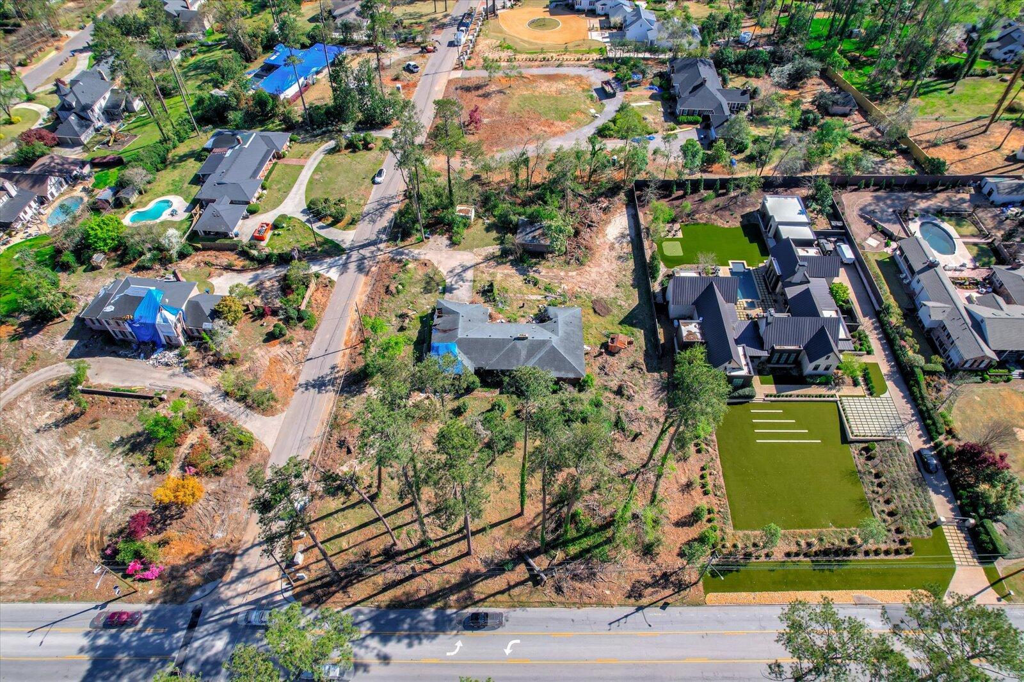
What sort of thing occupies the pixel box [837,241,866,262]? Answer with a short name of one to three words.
truck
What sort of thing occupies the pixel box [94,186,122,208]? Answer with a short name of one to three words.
shed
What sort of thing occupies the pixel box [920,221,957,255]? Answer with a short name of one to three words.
swimming pool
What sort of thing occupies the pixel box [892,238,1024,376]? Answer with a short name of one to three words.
house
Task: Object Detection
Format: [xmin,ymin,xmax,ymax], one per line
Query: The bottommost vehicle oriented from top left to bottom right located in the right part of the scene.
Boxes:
[914,445,945,474]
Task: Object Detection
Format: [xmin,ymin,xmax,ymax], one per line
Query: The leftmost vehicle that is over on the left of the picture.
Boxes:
[99,610,140,628]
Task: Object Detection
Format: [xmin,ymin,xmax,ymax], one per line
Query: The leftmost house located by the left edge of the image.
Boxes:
[0,150,89,233]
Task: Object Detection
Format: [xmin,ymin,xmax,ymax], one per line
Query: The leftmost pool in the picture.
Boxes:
[46,194,84,228]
